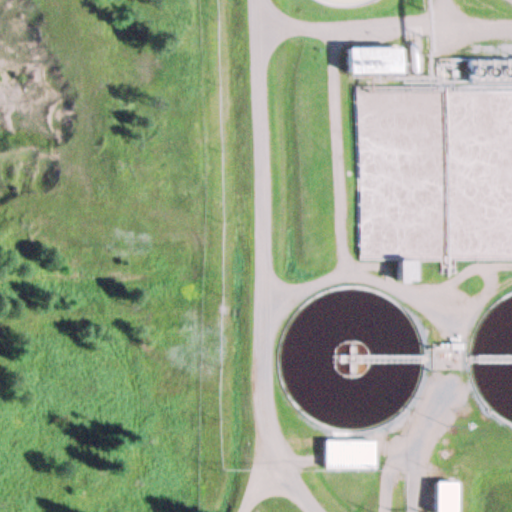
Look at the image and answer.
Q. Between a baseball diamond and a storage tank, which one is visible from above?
storage tank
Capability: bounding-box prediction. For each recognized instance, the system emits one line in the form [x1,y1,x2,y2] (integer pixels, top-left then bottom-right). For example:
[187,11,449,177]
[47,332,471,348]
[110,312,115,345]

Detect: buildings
[399,262,421,284]
[468,59,512,84]
[324,437,376,470]
[434,476,458,512]
[348,46,404,75]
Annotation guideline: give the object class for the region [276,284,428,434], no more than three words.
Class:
storage tank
